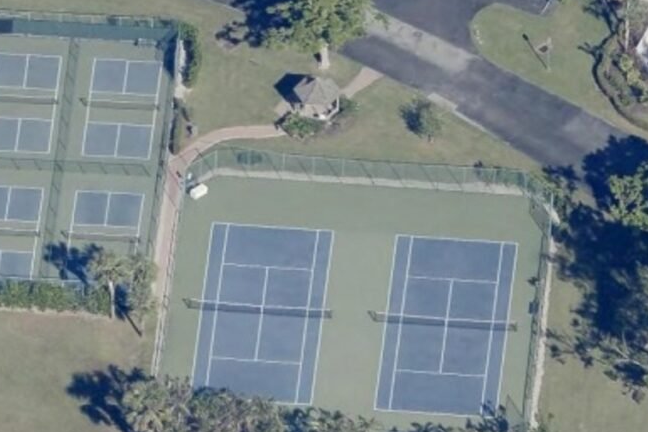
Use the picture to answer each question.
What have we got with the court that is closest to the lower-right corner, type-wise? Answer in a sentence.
The court that is closest to the lower-right corner is a tennis court.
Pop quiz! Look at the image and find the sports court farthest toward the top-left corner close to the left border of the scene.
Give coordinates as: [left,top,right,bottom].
[0,53,62,153]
